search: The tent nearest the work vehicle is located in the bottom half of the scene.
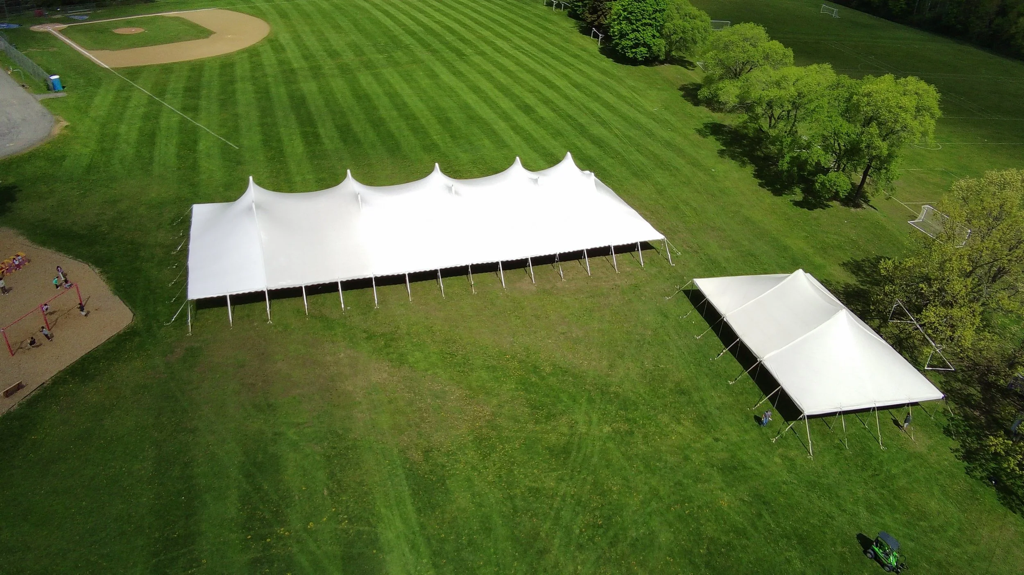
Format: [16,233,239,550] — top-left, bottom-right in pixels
[664,270,959,461]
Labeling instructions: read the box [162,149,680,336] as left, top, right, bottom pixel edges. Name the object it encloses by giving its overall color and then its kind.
white tent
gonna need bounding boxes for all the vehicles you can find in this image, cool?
[864,528,918,575]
